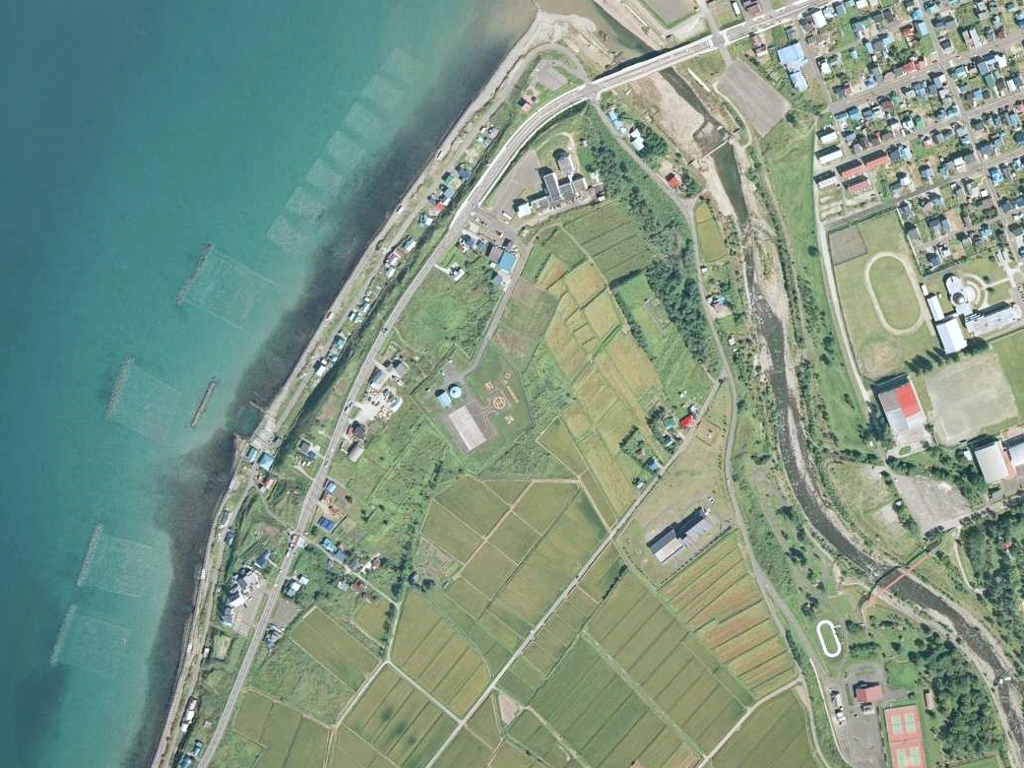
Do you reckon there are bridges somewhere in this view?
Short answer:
Yes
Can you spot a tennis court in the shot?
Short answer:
Yes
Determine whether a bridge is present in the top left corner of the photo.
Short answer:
No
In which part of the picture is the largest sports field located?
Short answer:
right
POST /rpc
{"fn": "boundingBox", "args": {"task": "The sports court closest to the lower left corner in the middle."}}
[449,406,485,450]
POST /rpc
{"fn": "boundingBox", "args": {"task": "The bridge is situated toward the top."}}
[587,35,719,98]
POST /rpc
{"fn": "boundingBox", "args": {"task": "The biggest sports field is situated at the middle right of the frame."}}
[925,354,1018,445]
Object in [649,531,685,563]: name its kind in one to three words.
shed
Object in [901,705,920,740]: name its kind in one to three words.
tennis court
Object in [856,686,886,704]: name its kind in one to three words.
building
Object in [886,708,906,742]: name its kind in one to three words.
tennis court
